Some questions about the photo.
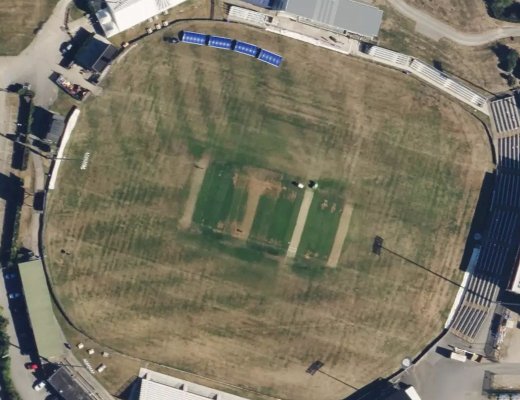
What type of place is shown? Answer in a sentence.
It's a sports ground.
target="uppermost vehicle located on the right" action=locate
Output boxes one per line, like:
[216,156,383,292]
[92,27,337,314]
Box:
[447,351,470,363]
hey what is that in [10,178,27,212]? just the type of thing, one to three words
house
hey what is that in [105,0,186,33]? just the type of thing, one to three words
tent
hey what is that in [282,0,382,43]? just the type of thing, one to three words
building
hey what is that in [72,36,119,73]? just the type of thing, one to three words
building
